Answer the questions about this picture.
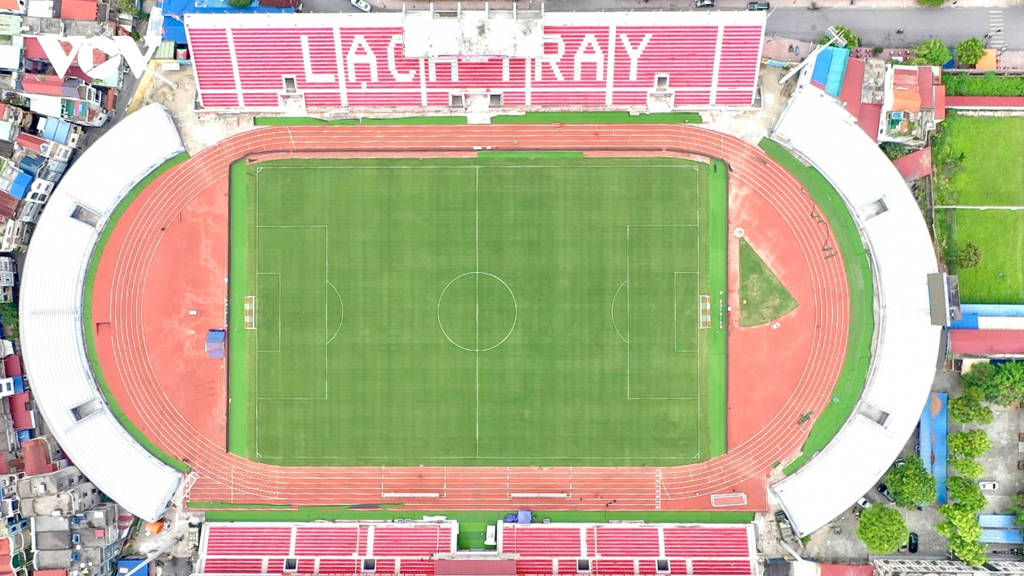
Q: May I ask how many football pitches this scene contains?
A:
1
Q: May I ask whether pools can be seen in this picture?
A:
No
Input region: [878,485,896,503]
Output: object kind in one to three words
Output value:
car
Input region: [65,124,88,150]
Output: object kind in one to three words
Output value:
house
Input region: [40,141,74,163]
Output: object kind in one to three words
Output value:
house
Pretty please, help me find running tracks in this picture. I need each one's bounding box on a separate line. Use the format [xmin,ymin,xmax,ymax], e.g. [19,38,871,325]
[92,124,851,510]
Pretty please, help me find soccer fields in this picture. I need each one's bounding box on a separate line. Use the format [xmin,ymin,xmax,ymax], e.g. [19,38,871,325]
[248,158,710,466]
